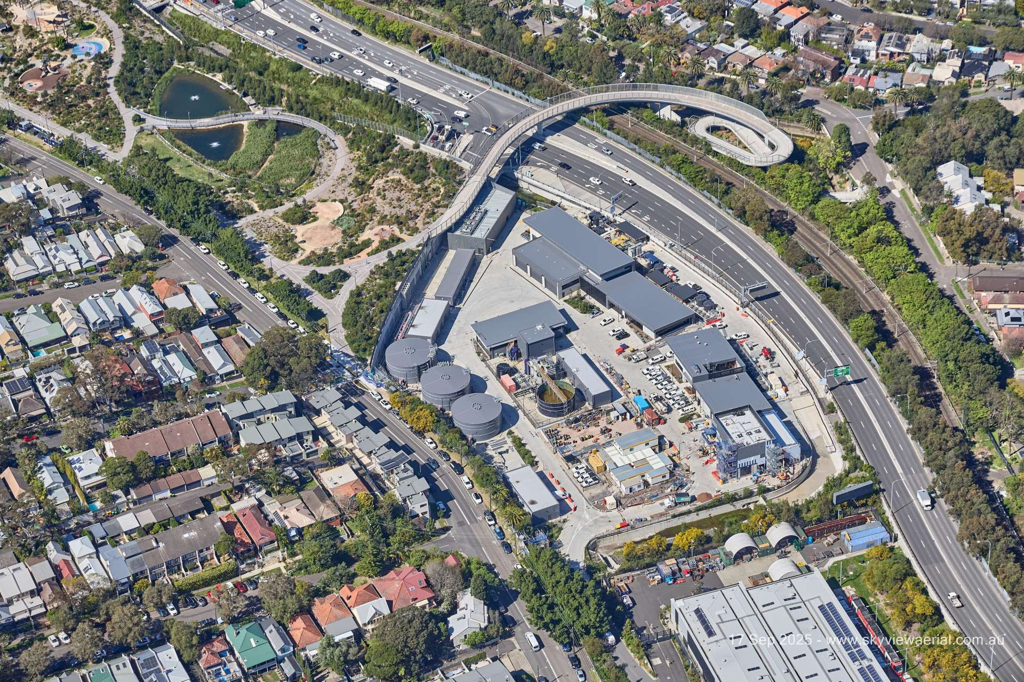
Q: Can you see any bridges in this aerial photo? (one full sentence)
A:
Yes, looking at the shot, I can spot a bridge.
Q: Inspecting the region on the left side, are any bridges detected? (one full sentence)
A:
Yes, you'll find a bridge on the left side.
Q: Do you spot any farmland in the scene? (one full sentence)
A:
No, the picture contains no farmland.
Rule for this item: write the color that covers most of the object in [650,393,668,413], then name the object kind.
white vehicle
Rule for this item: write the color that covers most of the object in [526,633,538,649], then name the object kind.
white vehicle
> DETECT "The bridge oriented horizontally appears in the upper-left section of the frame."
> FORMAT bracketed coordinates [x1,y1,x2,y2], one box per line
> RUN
[122,106,339,140]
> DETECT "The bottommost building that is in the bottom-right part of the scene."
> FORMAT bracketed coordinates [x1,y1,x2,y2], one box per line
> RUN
[673,569,882,682]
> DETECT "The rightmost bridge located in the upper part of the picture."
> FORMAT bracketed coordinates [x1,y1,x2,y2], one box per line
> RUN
[415,84,795,237]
